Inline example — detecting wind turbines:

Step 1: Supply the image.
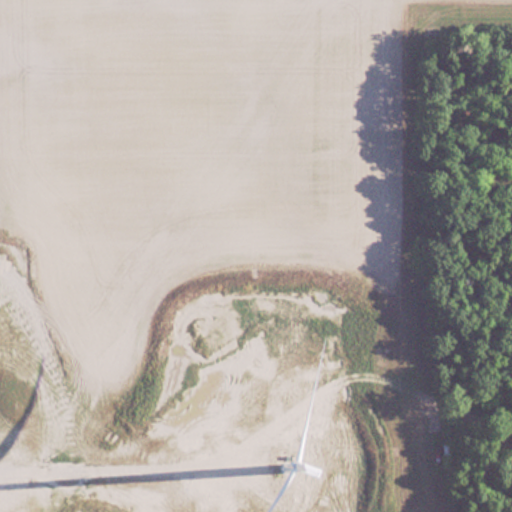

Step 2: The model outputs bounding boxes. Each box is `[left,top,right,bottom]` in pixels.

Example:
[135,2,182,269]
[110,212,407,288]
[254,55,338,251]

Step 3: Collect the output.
[266,339,326,512]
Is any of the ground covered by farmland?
Yes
